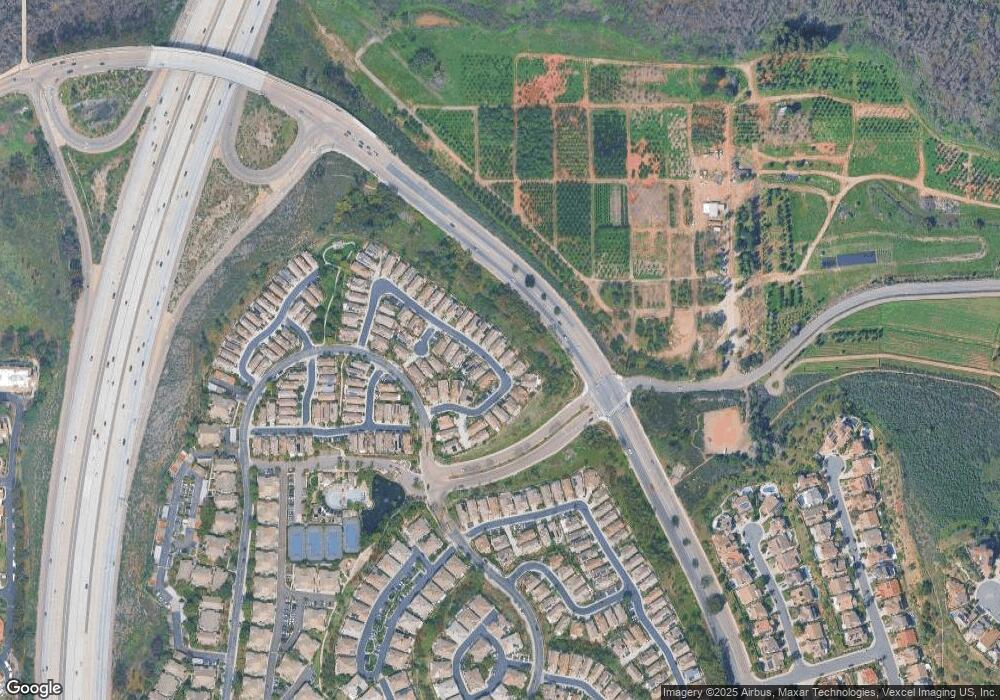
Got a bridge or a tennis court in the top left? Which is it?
bridge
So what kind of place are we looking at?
residential area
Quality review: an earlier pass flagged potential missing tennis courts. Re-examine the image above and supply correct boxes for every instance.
[288,525,305,560]
[325,525,342,560]
[306,525,323,560]
[343,518,359,554]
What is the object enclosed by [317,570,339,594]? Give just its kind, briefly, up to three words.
building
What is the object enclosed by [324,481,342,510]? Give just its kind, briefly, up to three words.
swimming pool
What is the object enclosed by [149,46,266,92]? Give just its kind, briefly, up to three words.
bridge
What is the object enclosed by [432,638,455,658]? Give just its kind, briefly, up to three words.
house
